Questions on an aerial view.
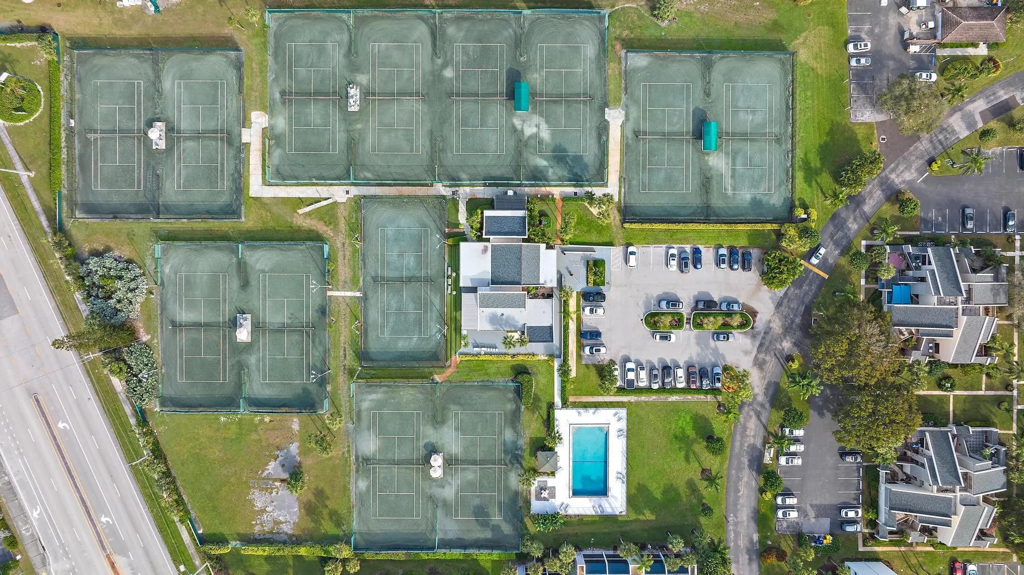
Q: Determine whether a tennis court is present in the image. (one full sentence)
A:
Yes, this view includes a tennis court.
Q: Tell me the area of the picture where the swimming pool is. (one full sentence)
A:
You can find the swimming pool in the bottom area of the picture.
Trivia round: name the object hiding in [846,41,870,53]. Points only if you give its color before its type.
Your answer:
white vehicle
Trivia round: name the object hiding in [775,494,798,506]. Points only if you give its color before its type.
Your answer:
white vehicle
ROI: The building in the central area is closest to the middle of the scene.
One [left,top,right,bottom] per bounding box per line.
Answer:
[460,195,557,343]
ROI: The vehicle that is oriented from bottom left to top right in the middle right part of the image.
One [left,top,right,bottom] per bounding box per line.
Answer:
[808,244,827,266]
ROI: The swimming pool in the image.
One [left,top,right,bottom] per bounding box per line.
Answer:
[531,408,627,515]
